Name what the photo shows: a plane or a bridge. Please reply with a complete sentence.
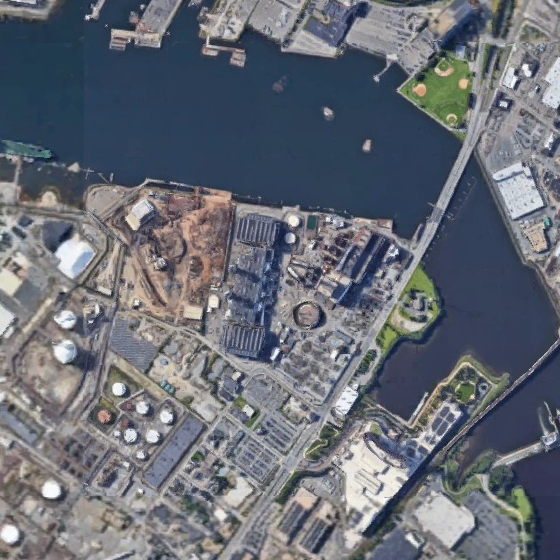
There is a bridge in the scene.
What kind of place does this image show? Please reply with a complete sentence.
What you see here is a port.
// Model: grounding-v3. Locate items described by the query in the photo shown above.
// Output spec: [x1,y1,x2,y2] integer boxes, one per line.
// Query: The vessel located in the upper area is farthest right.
[229,50,245,67]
